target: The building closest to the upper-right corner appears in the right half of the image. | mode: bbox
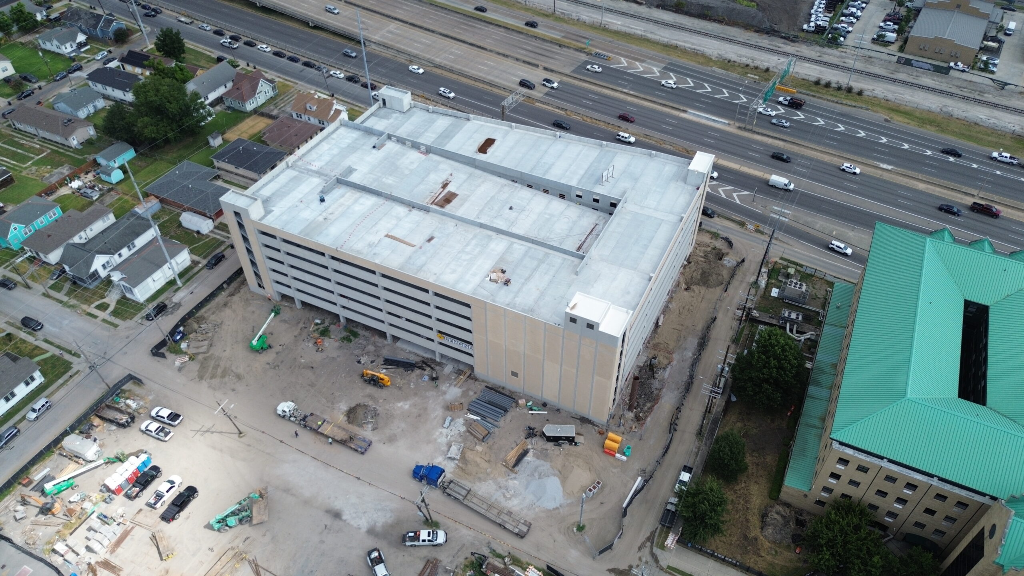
[893,0,1009,66]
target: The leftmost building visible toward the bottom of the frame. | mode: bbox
[0,351,45,419]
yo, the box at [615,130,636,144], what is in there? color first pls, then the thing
white car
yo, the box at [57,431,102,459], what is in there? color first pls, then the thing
white trailer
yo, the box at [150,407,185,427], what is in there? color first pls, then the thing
white vehicle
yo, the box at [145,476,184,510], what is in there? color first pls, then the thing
white truck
